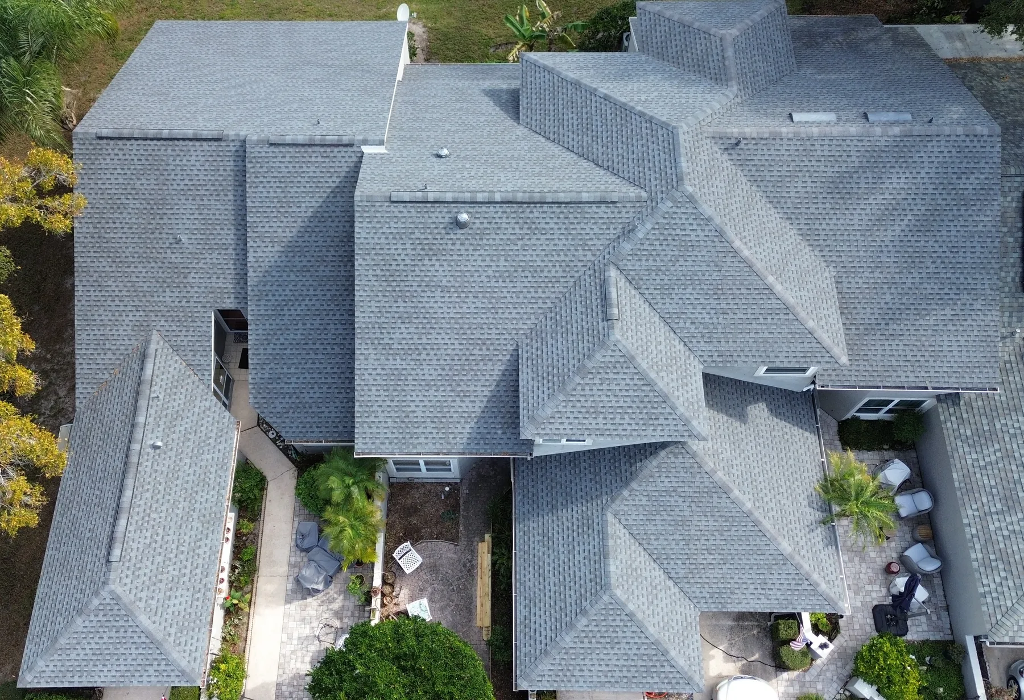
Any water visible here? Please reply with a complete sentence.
No, the scene doesn't show any water.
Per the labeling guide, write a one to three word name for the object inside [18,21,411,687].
house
